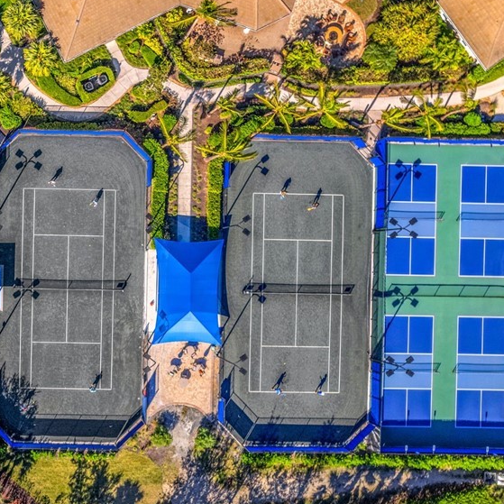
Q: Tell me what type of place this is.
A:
sports ground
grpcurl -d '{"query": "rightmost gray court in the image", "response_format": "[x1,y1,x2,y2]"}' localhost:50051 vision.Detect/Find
[221,140,374,446]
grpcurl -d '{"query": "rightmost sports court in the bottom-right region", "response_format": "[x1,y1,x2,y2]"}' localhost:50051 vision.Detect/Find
[445,298,504,448]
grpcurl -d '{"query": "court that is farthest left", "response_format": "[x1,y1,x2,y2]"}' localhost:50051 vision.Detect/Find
[0,135,146,444]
